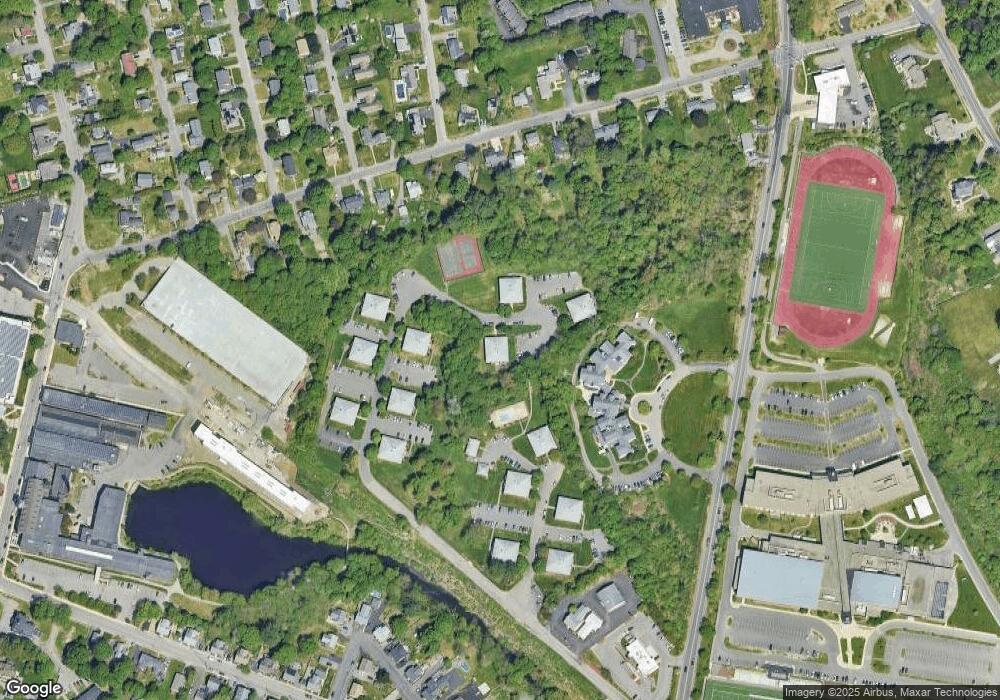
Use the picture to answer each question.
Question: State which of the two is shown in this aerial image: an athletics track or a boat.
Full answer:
The image shows an athletics track.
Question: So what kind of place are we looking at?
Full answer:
What you see here is a residential area.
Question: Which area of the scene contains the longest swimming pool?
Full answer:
The longest swimming pool is located in the center region of the scene.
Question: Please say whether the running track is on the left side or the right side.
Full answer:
It is on the right.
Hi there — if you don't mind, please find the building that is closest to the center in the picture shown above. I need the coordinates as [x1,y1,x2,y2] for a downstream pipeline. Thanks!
[484,337,509,363]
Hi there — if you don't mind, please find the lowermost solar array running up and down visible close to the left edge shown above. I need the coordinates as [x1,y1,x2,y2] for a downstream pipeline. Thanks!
[0,321,24,397]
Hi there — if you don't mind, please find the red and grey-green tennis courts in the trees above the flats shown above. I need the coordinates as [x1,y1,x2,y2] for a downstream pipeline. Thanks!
[438,236,484,280]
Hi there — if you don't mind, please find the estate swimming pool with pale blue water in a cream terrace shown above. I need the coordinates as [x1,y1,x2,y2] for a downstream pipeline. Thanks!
[491,401,529,428]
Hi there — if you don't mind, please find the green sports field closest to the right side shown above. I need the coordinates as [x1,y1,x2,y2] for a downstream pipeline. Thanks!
[790,183,885,313]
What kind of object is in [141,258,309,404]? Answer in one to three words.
warehouse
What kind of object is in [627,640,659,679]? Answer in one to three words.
building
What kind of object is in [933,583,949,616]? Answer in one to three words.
solar array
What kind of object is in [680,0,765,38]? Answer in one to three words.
house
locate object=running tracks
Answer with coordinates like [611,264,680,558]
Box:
[773,145,904,349]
